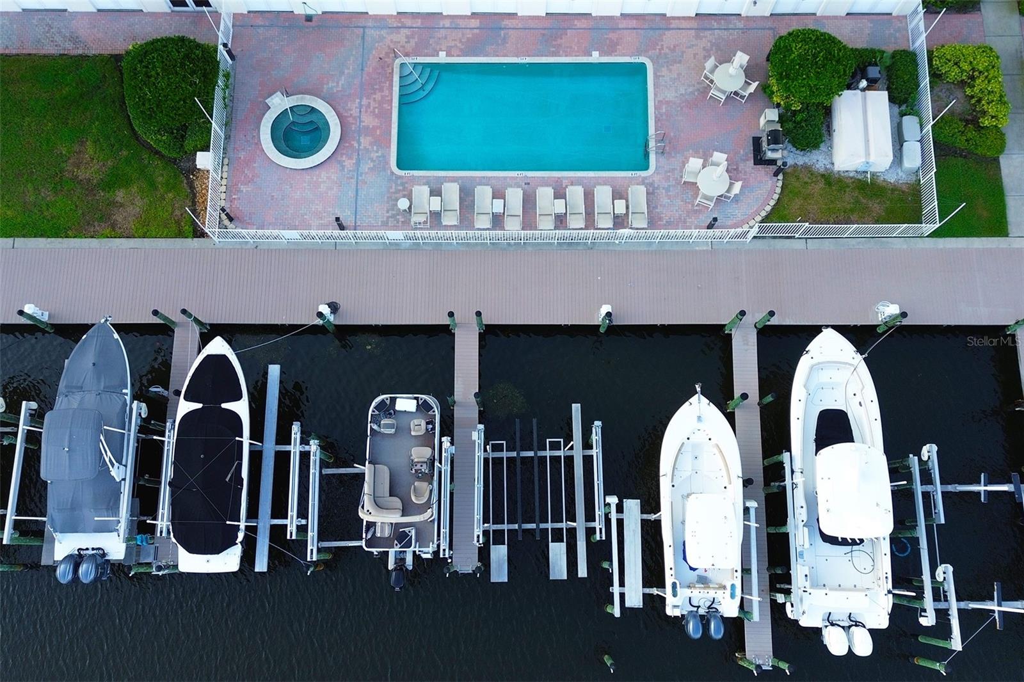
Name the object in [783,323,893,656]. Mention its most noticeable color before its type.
white boat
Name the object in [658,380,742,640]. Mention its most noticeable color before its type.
white boat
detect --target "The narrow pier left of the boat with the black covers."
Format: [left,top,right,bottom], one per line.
[154,325,201,565]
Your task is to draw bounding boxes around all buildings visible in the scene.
[831,88,897,170]
[0,0,918,15]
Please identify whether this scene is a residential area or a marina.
marina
